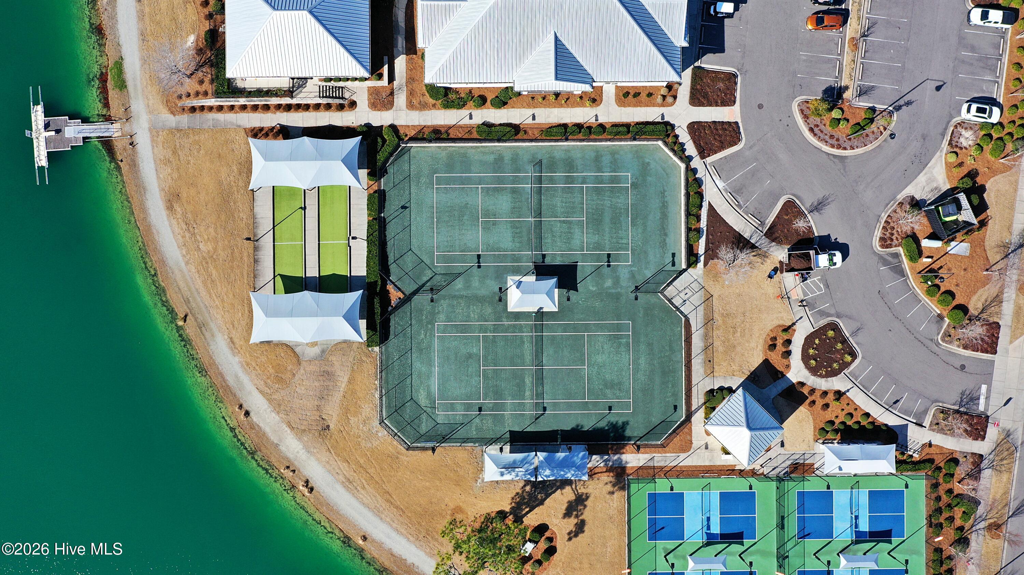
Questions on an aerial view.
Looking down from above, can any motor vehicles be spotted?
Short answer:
Yes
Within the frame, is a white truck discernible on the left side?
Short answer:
No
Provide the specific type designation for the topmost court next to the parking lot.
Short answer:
tennis court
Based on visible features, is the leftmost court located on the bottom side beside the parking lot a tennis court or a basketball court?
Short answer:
tennis court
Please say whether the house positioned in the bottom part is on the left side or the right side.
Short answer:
right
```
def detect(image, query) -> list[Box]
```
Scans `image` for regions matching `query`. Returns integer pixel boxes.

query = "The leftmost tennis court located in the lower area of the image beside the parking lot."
[382,293,684,445]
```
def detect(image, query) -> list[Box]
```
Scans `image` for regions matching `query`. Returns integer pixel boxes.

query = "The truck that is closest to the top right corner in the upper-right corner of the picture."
[965,7,1016,29]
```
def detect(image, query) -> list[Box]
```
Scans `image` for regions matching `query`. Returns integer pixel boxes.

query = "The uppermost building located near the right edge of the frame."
[916,192,978,239]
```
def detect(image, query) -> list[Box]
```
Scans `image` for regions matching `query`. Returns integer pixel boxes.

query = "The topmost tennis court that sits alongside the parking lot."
[382,141,683,296]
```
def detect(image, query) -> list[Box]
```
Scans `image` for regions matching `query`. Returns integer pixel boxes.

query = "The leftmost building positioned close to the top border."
[224,0,372,80]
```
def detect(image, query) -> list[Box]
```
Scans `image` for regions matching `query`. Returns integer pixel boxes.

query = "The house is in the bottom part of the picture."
[701,387,785,469]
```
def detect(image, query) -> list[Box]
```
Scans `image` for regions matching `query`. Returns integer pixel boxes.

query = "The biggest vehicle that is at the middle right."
[782,250,841,274]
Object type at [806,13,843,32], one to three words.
car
